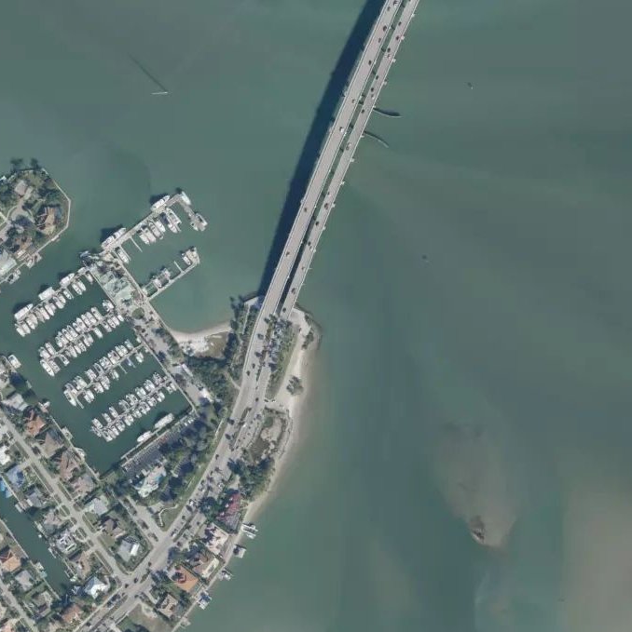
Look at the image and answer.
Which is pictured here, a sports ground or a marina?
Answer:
marina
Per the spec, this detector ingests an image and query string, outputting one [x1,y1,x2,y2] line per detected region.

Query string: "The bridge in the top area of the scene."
[264,0,402,312]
